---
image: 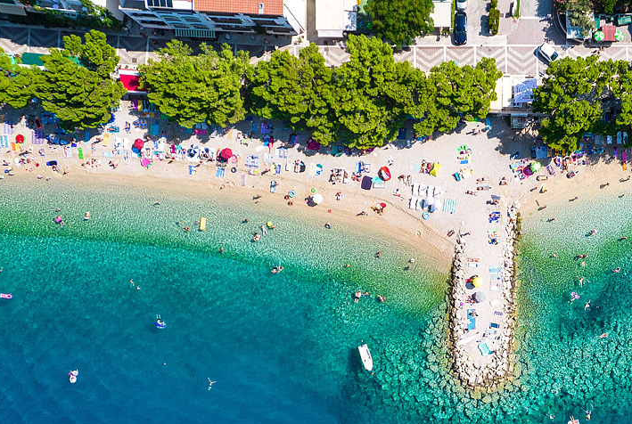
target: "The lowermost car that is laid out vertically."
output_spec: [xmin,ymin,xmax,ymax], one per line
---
[451,8,468,44]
